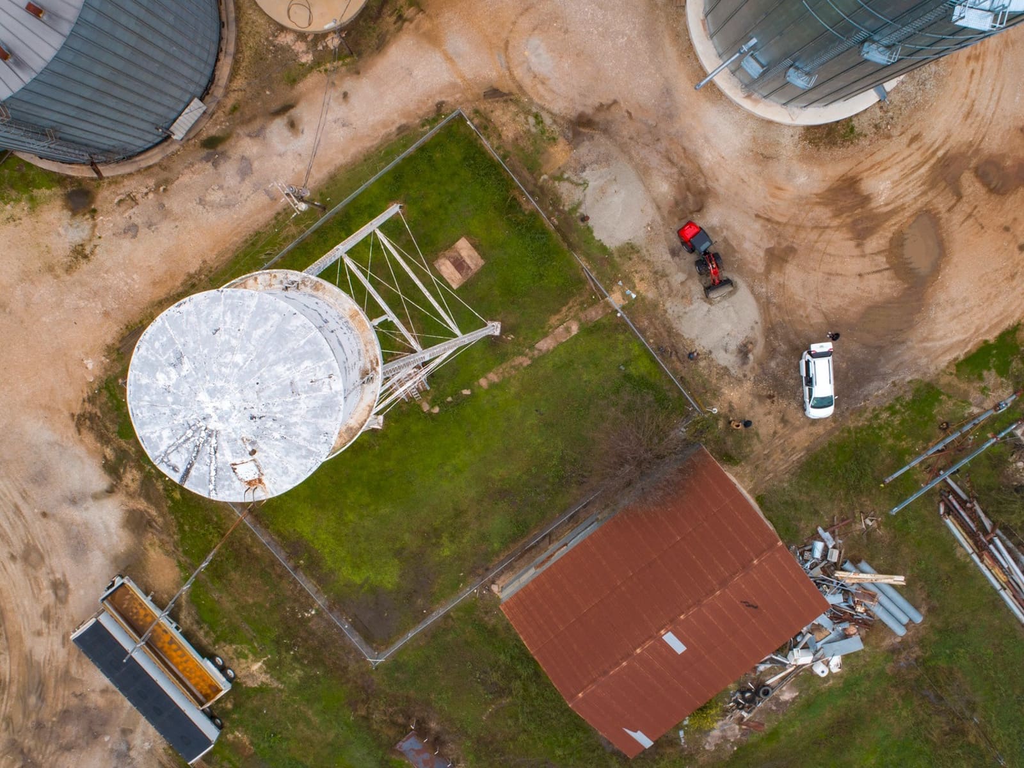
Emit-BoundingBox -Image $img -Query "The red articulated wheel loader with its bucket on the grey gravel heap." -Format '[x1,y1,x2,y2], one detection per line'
[675,220,734,297]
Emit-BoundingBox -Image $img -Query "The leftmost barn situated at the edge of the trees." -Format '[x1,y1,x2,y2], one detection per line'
[499,437,831,755]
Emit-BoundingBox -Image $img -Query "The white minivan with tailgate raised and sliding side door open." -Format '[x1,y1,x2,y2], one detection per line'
[803,344,840,420]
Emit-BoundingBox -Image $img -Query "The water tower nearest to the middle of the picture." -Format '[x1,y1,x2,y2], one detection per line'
[130,198,503,512]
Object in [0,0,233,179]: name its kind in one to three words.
silo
